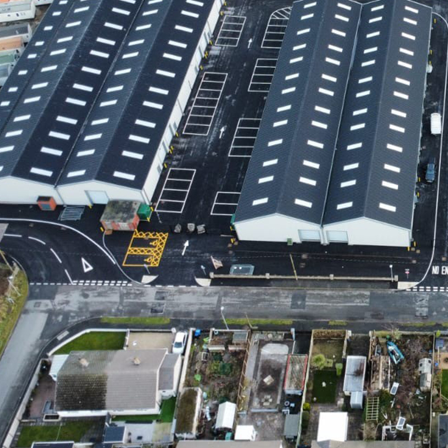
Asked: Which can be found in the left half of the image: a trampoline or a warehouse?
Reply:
warehouse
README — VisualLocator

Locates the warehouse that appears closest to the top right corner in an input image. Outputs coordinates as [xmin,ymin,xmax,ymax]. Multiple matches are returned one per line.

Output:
[233,0,434,249]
